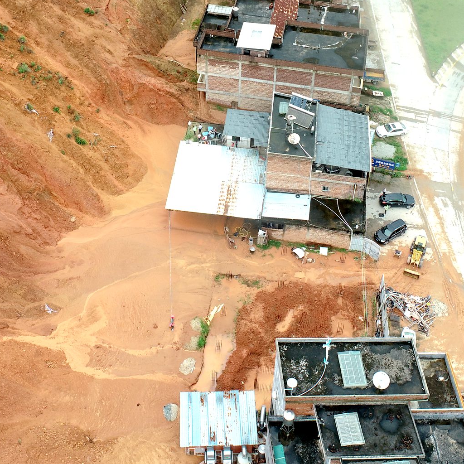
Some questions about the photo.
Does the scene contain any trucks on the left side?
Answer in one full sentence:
No, looking on the left side, there is no truck.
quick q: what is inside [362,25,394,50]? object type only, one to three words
truck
